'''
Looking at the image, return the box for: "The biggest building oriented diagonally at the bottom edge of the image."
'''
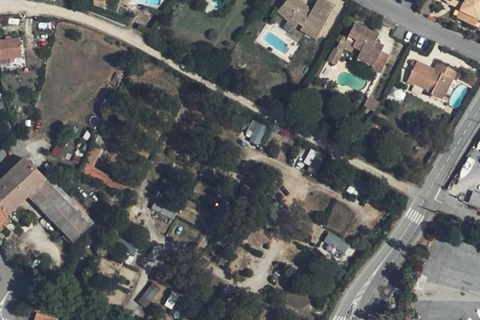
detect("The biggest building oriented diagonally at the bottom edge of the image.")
[134,280,160,308]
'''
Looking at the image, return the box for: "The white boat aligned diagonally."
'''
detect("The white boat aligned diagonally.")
[460,157,476,178]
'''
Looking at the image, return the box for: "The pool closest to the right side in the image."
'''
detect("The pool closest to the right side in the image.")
[447,84,468,110]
